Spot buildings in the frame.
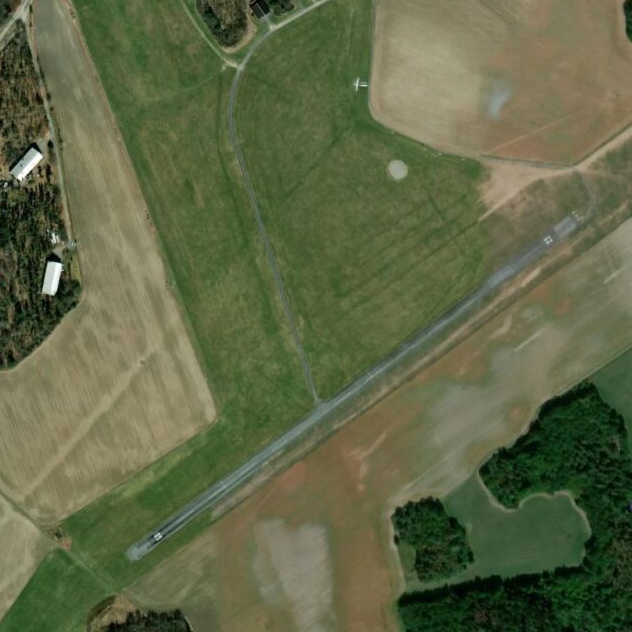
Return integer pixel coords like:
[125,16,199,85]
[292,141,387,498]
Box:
[42,261,62,296]
[10,147,43,182]
[250,0,271,19]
